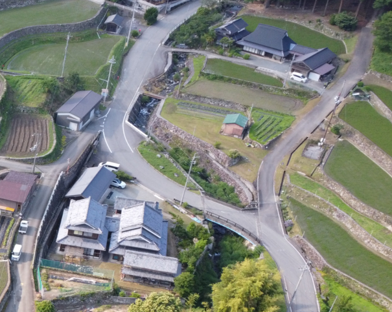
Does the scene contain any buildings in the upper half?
Yes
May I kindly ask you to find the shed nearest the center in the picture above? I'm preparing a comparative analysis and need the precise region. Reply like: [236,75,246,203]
[221,111,247,137]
